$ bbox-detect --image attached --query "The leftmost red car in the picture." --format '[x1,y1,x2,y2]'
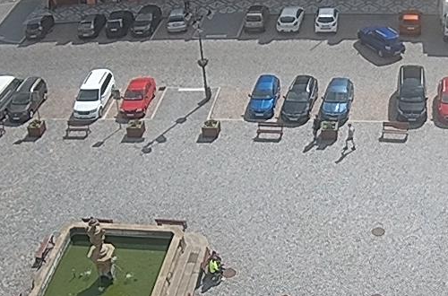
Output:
[118,75,156,114]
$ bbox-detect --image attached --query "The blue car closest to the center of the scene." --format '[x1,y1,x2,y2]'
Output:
[246,74,282,114]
